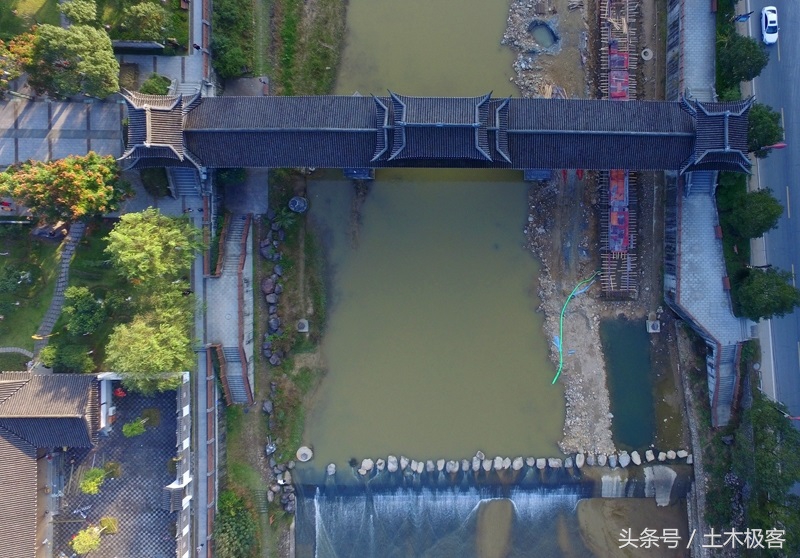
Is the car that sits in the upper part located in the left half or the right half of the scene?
right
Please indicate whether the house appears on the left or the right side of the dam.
to the left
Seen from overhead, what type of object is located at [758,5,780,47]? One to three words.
car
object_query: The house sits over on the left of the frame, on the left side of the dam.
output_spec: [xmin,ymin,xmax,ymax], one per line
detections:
[0,370,102,558]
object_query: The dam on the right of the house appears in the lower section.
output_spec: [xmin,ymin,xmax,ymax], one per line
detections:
[298,466,687,499]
